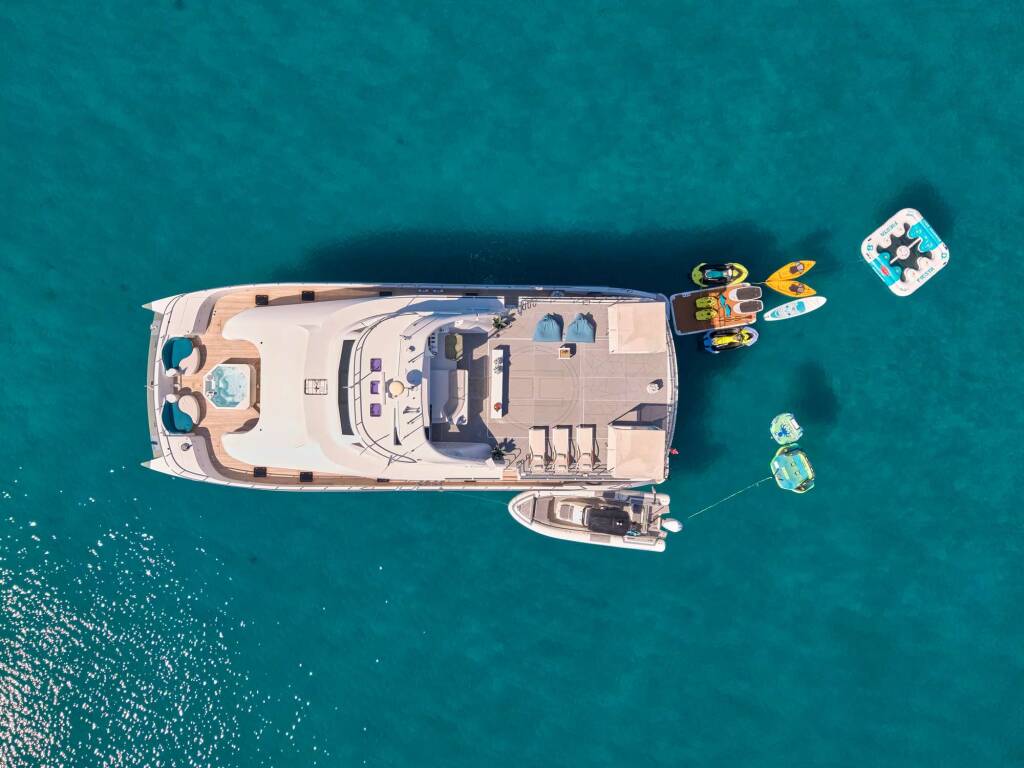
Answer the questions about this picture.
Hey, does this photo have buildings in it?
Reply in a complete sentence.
No, the picture doesn't show any building.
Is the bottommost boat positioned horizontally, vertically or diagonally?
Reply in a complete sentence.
The bottommost boat has been laid out horizontally relative to the frame.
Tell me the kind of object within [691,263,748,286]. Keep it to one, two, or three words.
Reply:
boat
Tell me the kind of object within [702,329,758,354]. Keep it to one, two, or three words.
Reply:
boat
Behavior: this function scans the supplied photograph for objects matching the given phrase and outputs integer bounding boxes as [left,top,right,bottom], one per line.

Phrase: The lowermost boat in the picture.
[508,487,682,552]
